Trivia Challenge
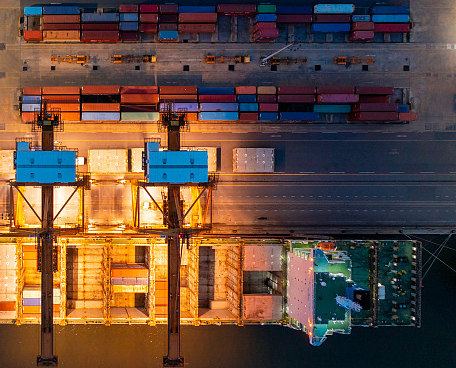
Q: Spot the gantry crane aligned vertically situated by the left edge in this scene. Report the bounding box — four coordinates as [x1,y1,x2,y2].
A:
[5,98,95,367]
